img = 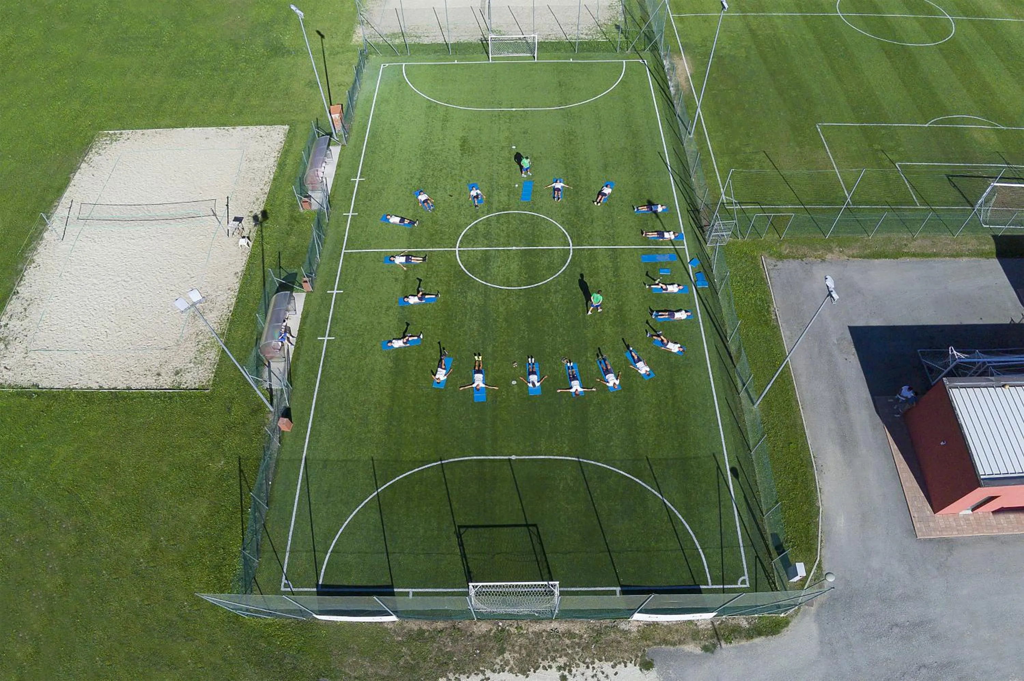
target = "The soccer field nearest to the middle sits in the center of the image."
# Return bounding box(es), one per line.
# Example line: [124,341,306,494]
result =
[247,56,783,616]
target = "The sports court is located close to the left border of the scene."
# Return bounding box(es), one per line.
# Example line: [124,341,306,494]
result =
[0,124,289,392]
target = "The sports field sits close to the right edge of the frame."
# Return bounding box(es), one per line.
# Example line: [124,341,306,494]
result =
[652,0,1024,240]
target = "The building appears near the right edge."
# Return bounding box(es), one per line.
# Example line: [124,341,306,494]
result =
[905,376,1024,514]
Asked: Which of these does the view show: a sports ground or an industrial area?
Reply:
sports ground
